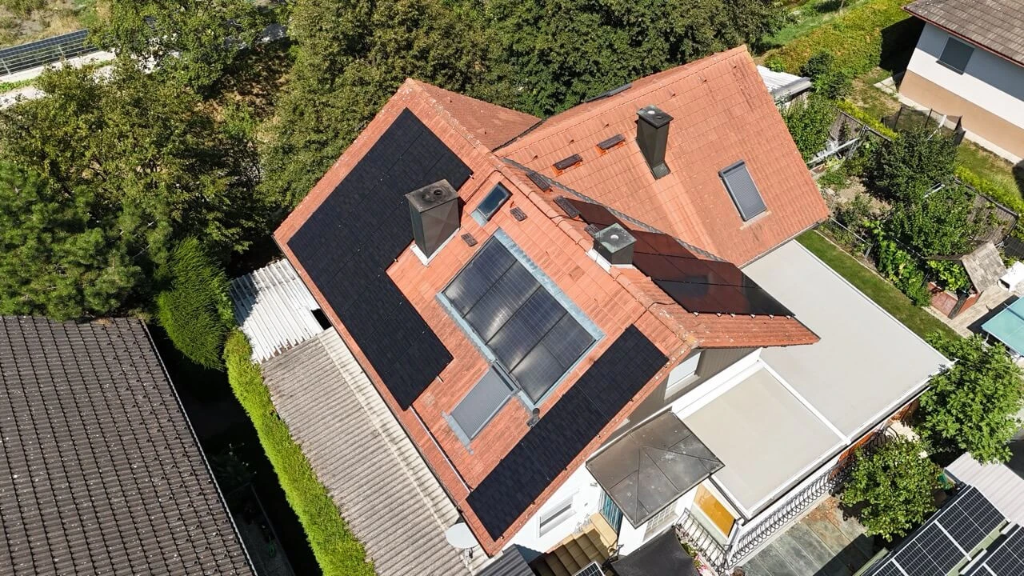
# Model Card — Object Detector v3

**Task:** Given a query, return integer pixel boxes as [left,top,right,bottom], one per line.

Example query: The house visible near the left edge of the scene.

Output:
[0,313,260,576]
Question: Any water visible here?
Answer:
No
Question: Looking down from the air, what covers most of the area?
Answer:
buildings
